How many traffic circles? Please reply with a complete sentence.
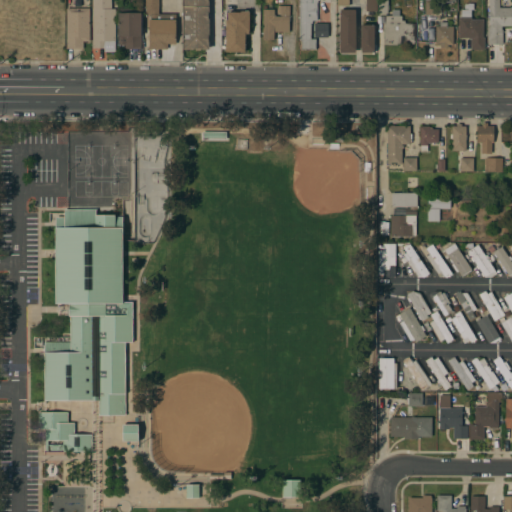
There are no traffic circles in this view.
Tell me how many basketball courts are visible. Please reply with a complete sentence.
The photo contains exactly 1 basketball court.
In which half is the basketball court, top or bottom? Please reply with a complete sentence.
It is in the top half that the basketball court appears.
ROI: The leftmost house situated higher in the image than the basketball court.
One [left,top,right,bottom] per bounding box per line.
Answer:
[67,8,91,50]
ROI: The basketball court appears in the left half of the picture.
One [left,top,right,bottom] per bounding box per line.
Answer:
[69,132,132,206]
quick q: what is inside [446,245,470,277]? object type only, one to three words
house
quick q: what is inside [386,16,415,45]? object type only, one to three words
building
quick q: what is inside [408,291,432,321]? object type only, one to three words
house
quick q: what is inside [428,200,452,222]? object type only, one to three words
barn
